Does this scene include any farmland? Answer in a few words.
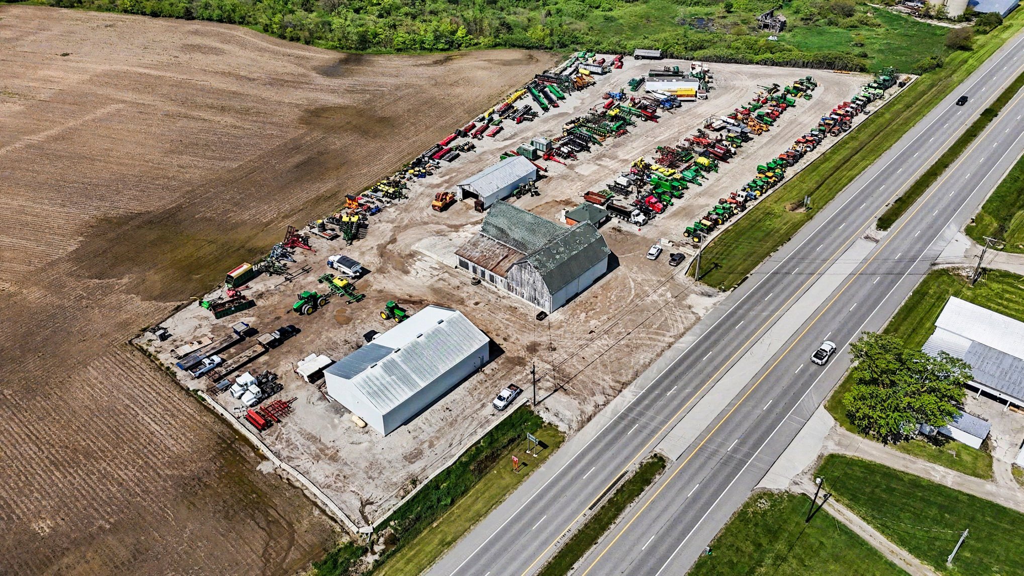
Yes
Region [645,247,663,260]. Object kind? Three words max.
vehicle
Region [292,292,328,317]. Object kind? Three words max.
work vehicle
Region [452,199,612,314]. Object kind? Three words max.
barn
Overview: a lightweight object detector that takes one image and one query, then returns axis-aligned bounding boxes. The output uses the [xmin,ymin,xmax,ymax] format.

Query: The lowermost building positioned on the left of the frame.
[320,306,491,435]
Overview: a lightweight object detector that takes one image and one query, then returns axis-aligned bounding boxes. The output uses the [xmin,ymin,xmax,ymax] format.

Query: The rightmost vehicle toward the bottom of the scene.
[811,343,836,365]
